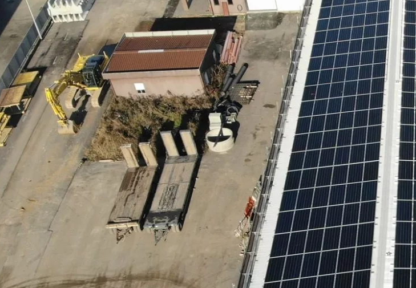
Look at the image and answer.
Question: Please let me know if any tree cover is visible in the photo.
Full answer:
No, the picture contains no tree cover.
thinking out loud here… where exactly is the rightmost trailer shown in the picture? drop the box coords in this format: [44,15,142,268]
[133,133,201,251]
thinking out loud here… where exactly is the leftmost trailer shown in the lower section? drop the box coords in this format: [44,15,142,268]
[95,143,162,249]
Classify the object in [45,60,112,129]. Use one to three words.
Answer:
work vehicle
